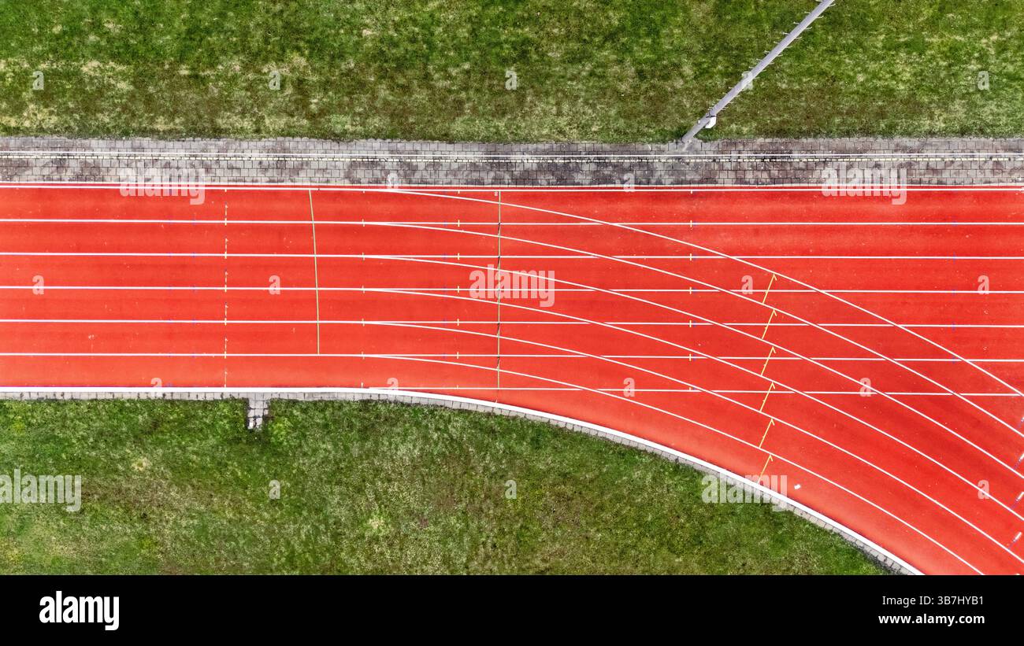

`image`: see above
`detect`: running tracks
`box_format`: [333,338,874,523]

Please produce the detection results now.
[0,182,1024,639]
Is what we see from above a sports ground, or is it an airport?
sports ground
